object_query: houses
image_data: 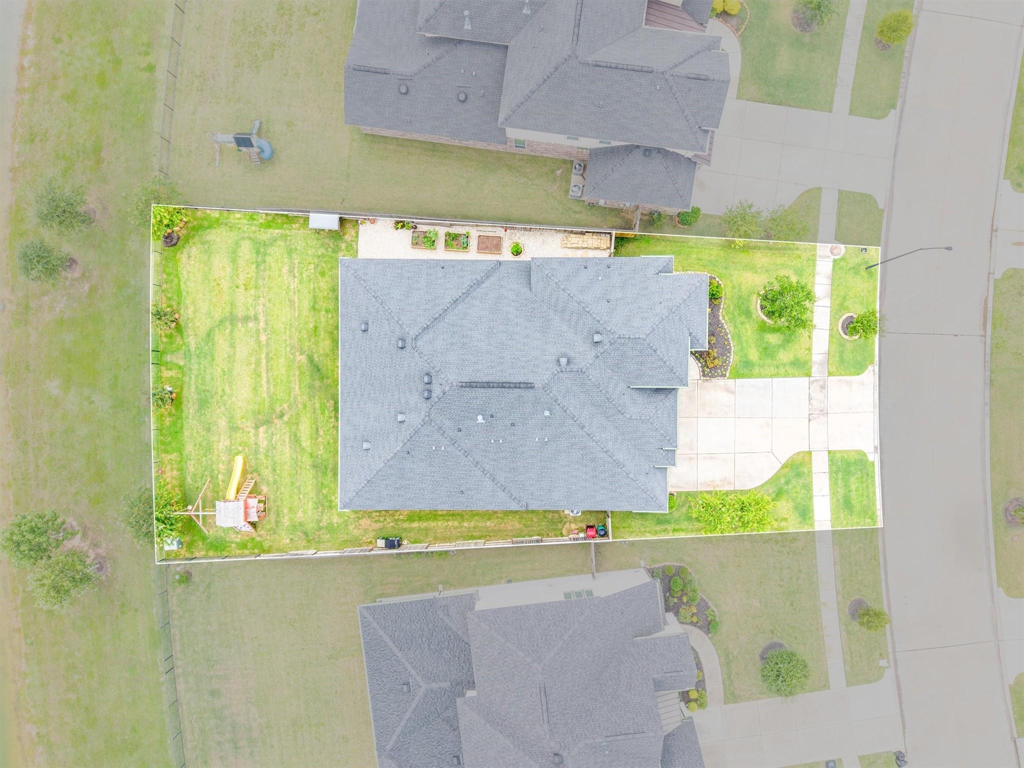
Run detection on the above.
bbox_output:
[356,564,703,768]
[337,255,710,514]
[344,0,731,218]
